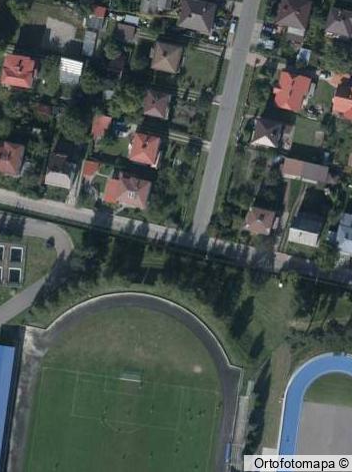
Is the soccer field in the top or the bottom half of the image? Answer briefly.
bottom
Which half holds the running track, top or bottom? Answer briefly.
bottom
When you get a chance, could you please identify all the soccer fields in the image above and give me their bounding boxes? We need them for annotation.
[27,306,225,472]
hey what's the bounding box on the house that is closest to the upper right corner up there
[325,5,352,41]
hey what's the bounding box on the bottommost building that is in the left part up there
[103,174,152,212]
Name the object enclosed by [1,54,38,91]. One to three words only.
house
